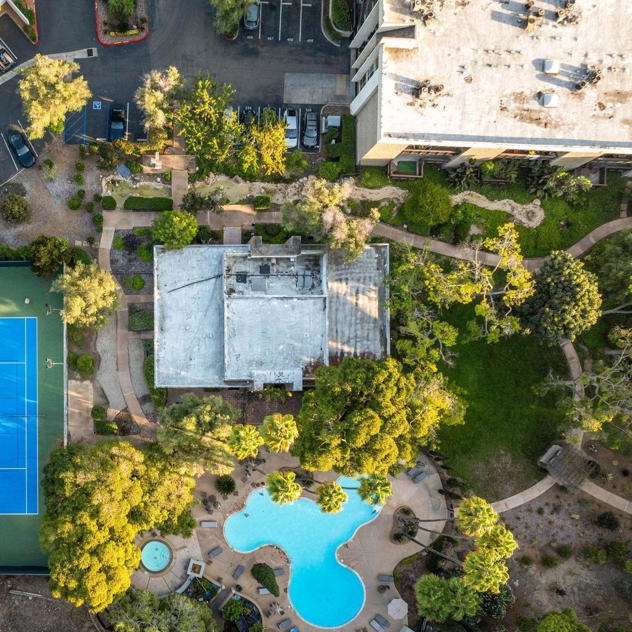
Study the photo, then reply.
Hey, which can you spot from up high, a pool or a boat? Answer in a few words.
pool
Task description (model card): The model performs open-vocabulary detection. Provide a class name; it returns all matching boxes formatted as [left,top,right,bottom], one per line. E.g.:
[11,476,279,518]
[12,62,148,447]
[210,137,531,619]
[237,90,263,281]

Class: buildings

[343,0,632,158]
[153,237,390,391]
